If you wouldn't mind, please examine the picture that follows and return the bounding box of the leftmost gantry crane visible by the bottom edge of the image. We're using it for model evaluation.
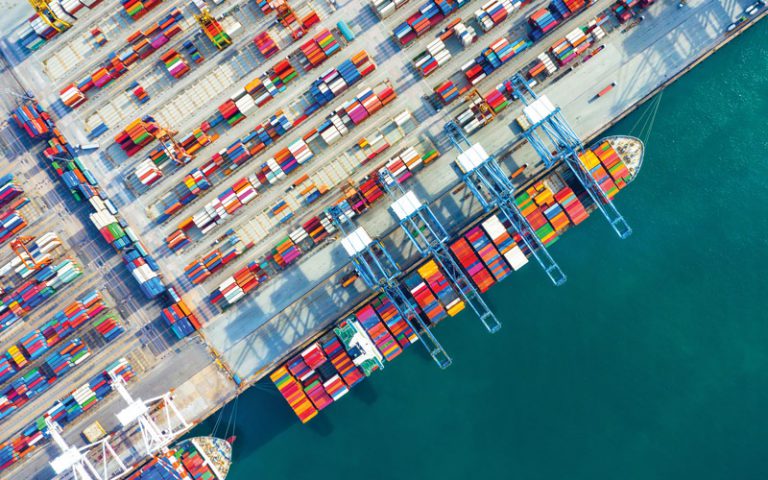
[35,424,130,480]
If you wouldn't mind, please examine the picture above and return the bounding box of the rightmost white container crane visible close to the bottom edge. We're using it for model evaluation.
[104,375,193,480]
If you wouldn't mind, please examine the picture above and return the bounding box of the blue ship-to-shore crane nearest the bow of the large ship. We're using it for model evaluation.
[508,70,634,236]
